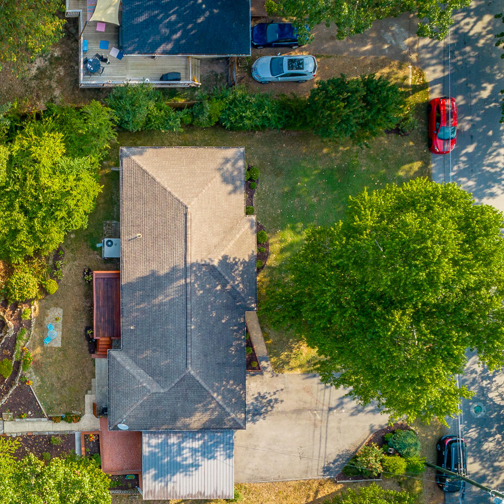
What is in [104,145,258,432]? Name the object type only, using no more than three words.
house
